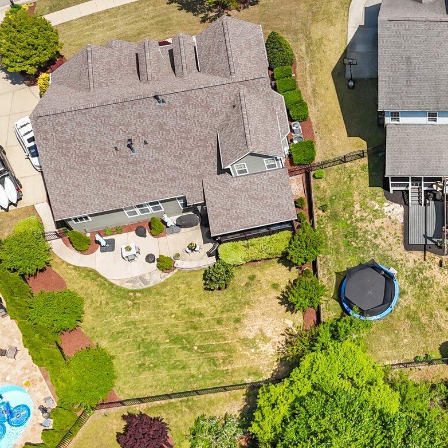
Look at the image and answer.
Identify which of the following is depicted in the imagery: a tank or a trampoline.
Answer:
trampoline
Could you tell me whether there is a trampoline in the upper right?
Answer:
No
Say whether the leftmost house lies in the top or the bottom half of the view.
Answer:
top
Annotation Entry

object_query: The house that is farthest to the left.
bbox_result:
[33,15,298,259]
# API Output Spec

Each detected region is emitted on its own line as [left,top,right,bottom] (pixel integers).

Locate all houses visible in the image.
[378,0,448,206]
[33,15,298,259]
